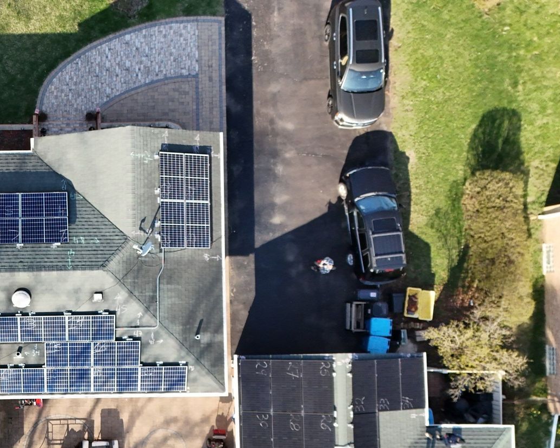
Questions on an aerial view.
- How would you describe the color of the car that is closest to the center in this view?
black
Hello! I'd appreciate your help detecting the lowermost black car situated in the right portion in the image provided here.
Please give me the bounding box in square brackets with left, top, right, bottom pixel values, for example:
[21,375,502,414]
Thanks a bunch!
[337,169,410,289]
